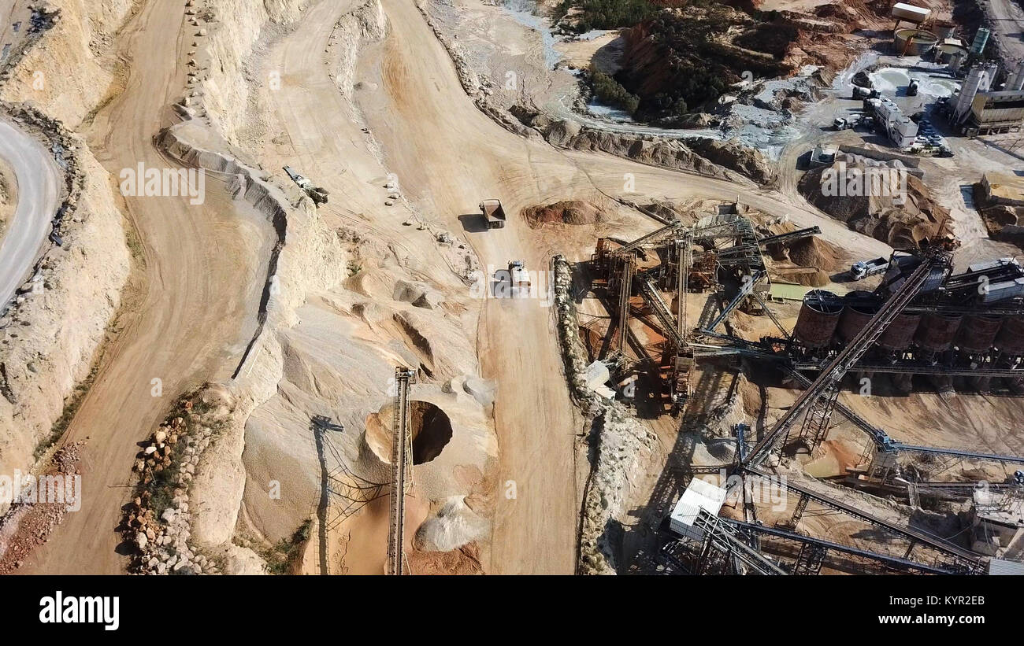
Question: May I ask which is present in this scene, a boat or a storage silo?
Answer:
storage silo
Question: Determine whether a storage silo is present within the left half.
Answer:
No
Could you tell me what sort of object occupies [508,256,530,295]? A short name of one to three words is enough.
truck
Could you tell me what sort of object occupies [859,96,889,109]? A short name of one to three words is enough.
vehicle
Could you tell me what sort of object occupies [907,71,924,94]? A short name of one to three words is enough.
vehicle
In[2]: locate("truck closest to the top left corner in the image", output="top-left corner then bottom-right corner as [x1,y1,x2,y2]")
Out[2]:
[482,194,508,231]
